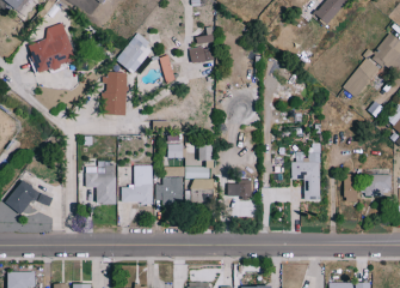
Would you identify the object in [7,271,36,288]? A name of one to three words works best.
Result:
house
